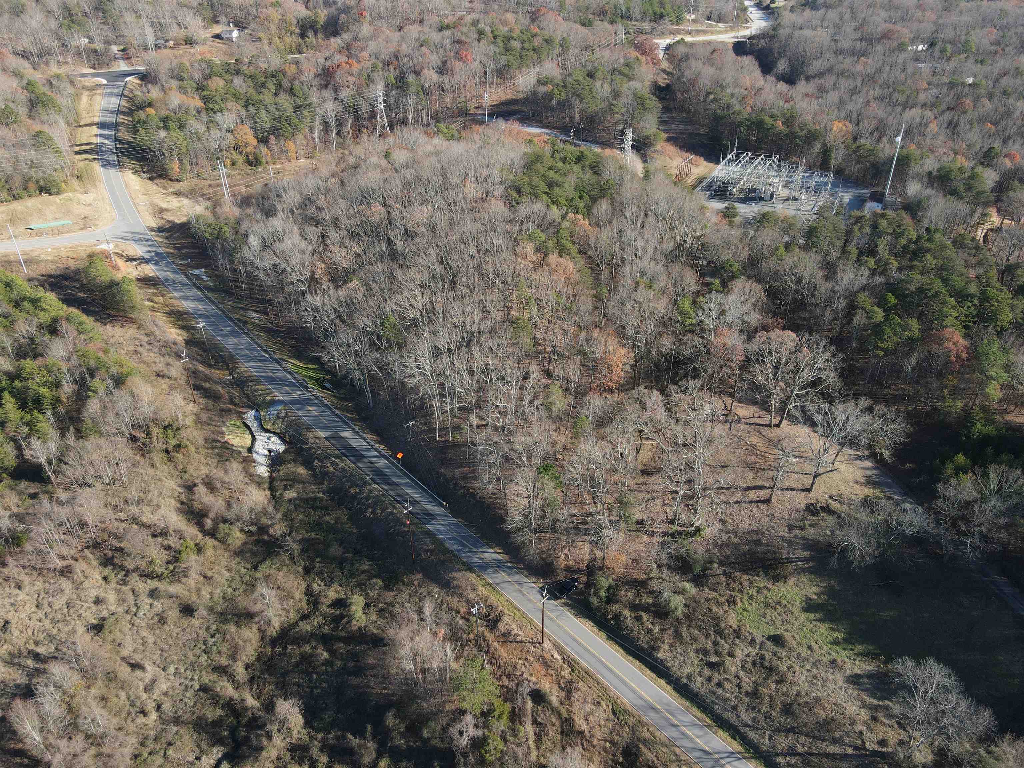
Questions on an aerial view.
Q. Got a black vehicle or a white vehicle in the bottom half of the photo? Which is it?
black vehicle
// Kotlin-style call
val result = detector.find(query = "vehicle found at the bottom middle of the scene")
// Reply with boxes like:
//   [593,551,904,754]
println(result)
[551,570,586,598]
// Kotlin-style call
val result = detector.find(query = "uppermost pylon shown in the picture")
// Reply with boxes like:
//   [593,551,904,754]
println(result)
[371,87,392,136]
